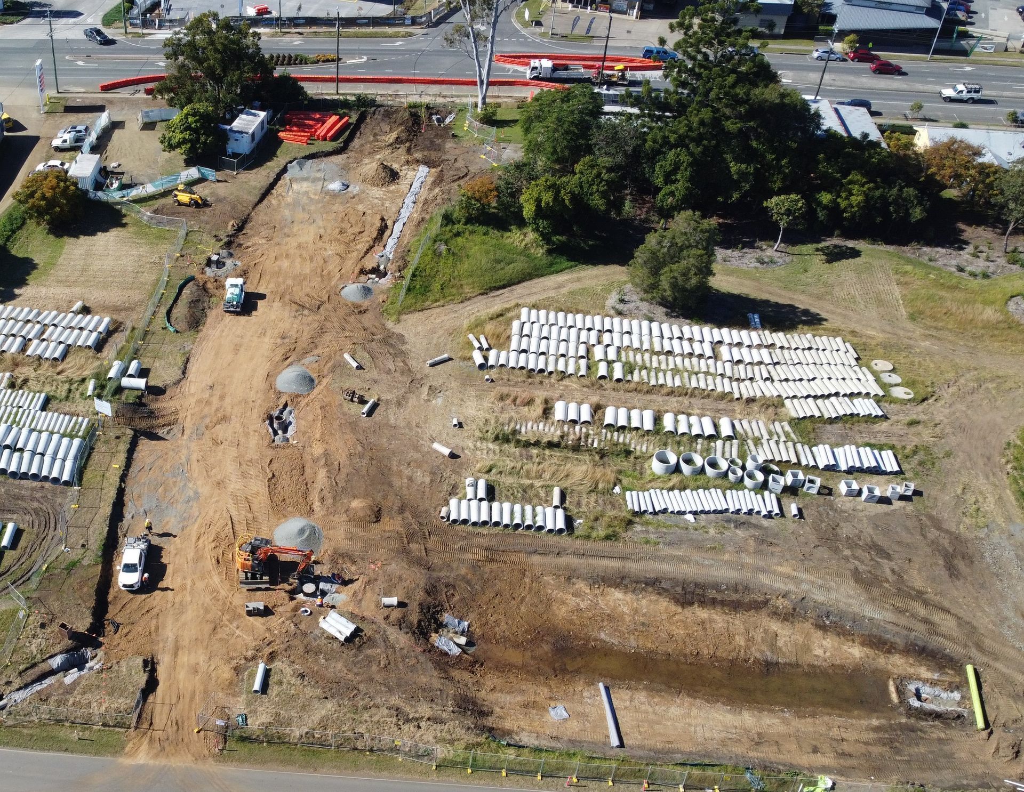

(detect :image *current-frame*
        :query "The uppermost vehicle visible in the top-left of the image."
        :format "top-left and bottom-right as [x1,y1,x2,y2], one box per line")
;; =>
[83,30,109,44]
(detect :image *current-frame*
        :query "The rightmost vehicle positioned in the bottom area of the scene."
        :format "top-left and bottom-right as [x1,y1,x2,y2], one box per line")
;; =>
[237,540,314,597]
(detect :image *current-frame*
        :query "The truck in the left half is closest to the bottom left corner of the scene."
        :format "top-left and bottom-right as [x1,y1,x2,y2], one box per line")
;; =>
[113,521,149,585]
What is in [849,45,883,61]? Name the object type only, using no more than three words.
car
